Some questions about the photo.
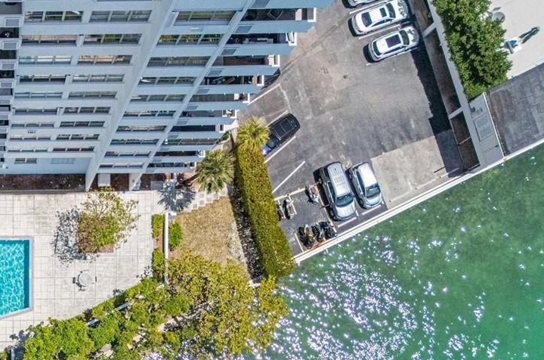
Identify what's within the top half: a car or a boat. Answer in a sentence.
It is a car that can be seen within the top half.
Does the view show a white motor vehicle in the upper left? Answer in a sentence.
No, no white motor vehicle can be made out in the upper left.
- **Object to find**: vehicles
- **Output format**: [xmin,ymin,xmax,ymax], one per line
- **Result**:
[365,25,420,64]
[287,196,299,217]
[301,223,315,243]
[263,110,306,161]
[350,0,407,35]
[322,217,339,237]
[312,220,326,240]
[309,181,323,203]
[347,158,382,211]
[317,162,358,221]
